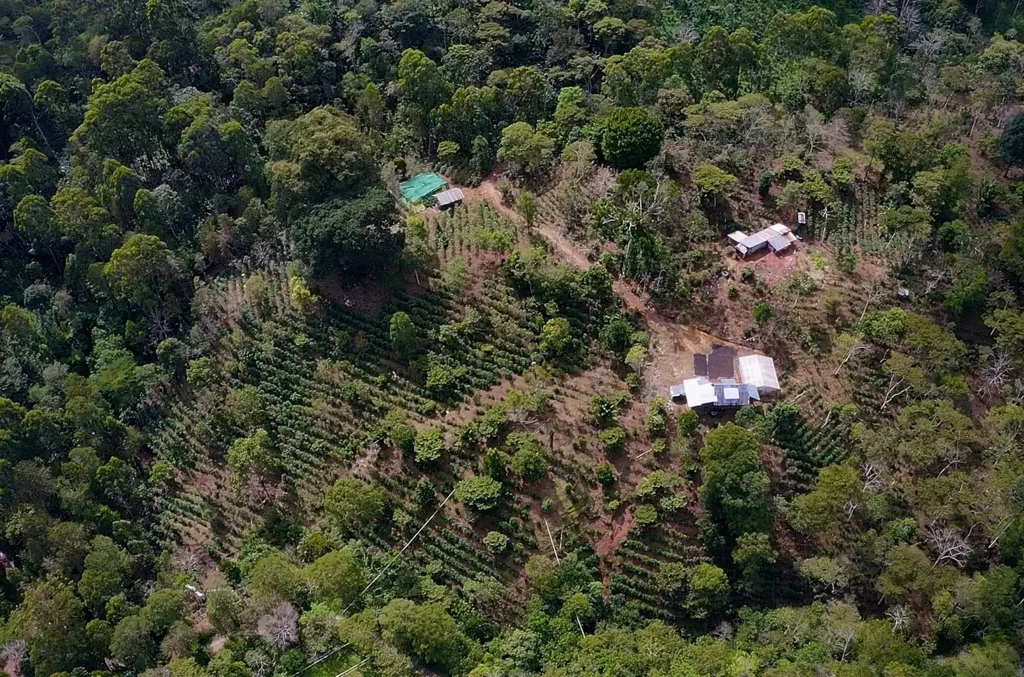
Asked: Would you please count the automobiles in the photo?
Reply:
zero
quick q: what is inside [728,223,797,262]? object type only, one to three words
house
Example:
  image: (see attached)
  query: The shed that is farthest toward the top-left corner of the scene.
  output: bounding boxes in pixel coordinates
[433,187,465,214]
